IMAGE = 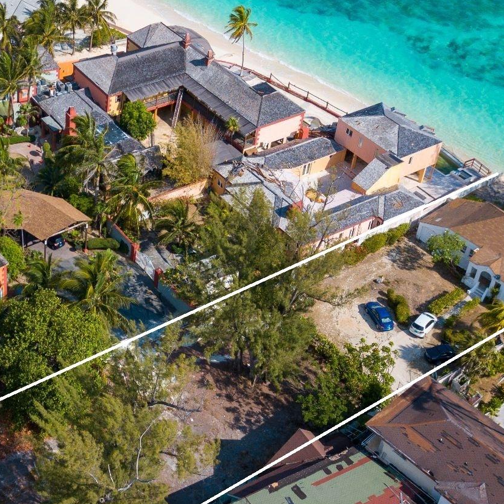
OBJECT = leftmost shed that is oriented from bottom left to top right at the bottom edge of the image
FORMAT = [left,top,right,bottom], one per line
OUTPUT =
[231,429,333,503]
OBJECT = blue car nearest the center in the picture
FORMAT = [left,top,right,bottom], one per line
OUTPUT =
[362,304,397,335]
